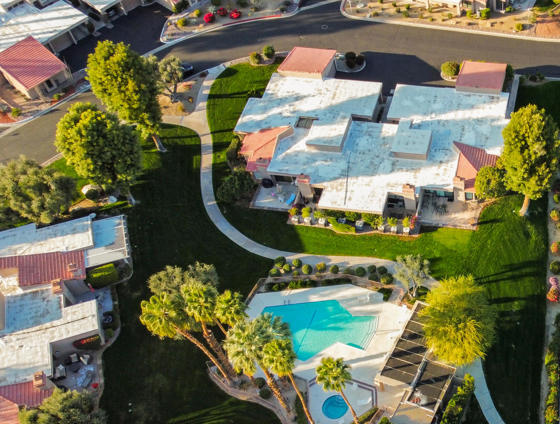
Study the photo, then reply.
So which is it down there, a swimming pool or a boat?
swimming pool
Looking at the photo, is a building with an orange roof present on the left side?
No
